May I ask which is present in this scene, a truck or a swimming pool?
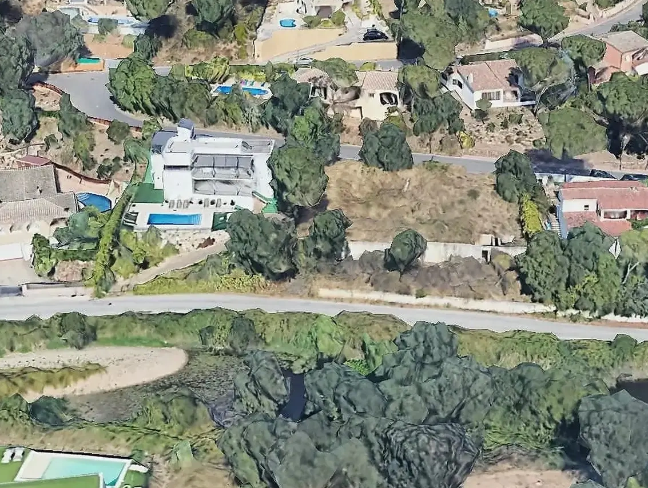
swimming pool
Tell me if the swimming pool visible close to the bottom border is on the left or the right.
left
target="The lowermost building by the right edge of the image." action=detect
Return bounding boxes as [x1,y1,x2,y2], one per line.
[543,176,648,240]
